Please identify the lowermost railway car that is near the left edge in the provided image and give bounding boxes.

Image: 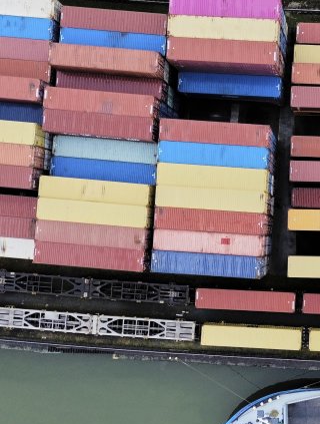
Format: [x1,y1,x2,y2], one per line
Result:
[0,308,94,336]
